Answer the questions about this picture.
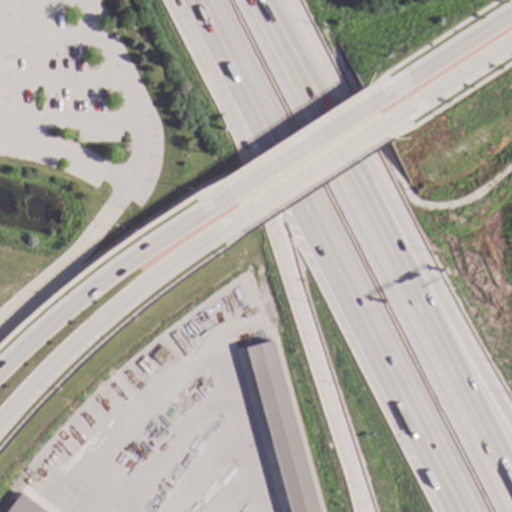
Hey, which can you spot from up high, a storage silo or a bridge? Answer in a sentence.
Of the two, only a bridge appears.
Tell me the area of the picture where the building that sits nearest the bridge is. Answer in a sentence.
The building that sits nearest the bridge is in the bottom part of the image.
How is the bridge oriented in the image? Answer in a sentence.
I'd say the bridge is aligned diagonally in the picture.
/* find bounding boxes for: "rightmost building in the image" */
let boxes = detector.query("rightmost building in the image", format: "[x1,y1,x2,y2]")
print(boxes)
[247,340,320,512]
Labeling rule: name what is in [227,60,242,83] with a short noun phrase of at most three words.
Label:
vehicle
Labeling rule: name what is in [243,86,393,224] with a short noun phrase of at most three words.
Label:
bridge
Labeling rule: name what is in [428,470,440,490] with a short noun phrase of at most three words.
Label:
vehicle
